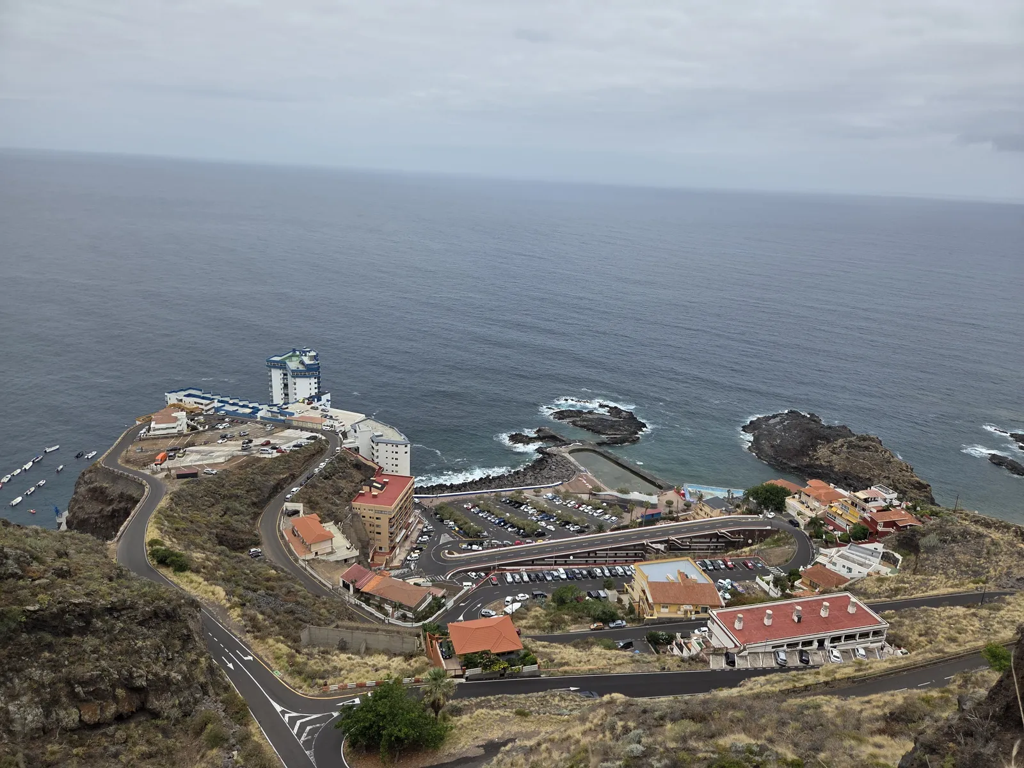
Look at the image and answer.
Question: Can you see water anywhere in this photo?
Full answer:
Yes, there's water in this view.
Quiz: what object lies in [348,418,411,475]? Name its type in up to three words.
building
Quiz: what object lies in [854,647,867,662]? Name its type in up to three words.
vehicle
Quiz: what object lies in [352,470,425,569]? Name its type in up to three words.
building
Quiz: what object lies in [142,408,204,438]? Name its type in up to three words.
house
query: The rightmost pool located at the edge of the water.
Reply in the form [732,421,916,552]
[683,481,746,501]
